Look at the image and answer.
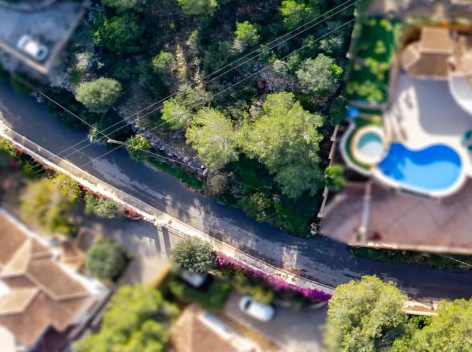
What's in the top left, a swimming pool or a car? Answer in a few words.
car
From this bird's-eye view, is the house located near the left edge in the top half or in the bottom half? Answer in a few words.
bottom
